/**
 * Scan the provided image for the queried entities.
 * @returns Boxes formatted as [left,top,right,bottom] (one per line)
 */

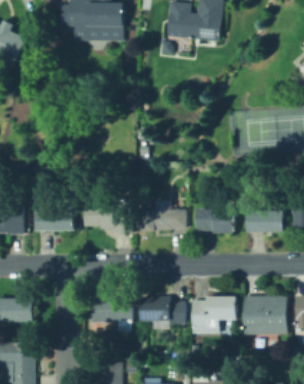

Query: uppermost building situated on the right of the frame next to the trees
[162,0,222,54]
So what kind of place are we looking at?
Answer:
residential area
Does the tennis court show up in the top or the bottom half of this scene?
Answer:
top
